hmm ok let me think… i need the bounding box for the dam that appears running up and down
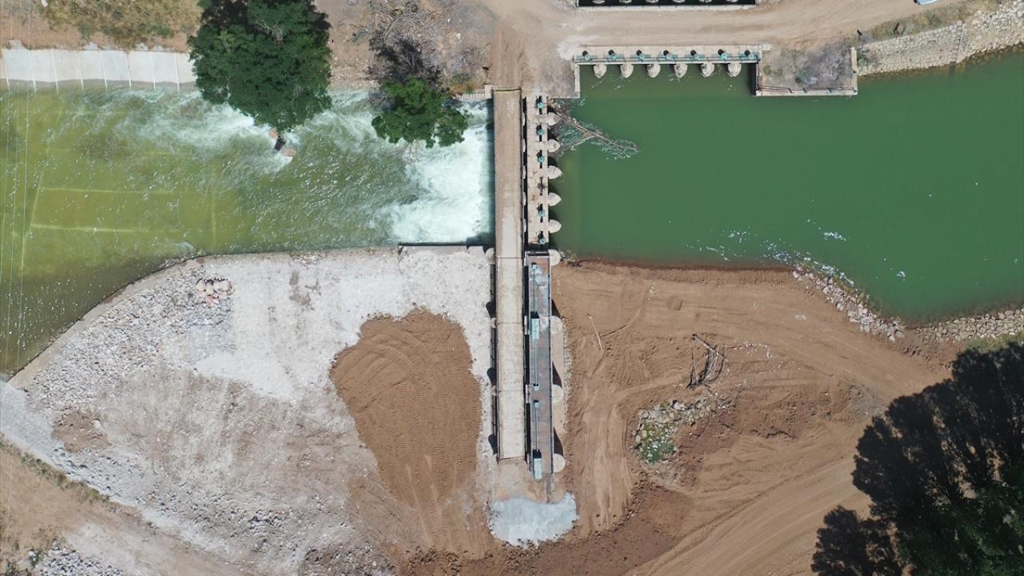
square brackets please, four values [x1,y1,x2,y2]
[488,94,565,478]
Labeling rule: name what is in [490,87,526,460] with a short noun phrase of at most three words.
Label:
bridge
